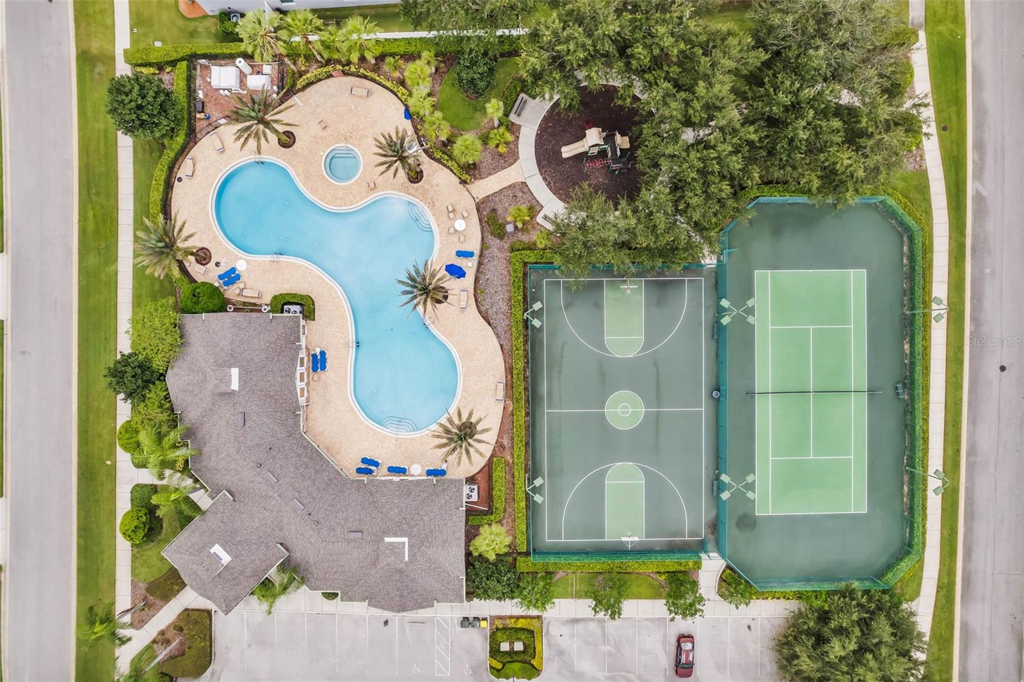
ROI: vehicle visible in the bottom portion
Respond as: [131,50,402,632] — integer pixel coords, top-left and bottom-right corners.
[675,632,698,679]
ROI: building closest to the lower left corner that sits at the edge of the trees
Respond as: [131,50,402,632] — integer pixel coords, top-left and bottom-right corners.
[161,313,466,615]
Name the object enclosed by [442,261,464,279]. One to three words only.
umbrella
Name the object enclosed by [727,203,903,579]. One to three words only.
tennis court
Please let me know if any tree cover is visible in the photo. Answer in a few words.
Yes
